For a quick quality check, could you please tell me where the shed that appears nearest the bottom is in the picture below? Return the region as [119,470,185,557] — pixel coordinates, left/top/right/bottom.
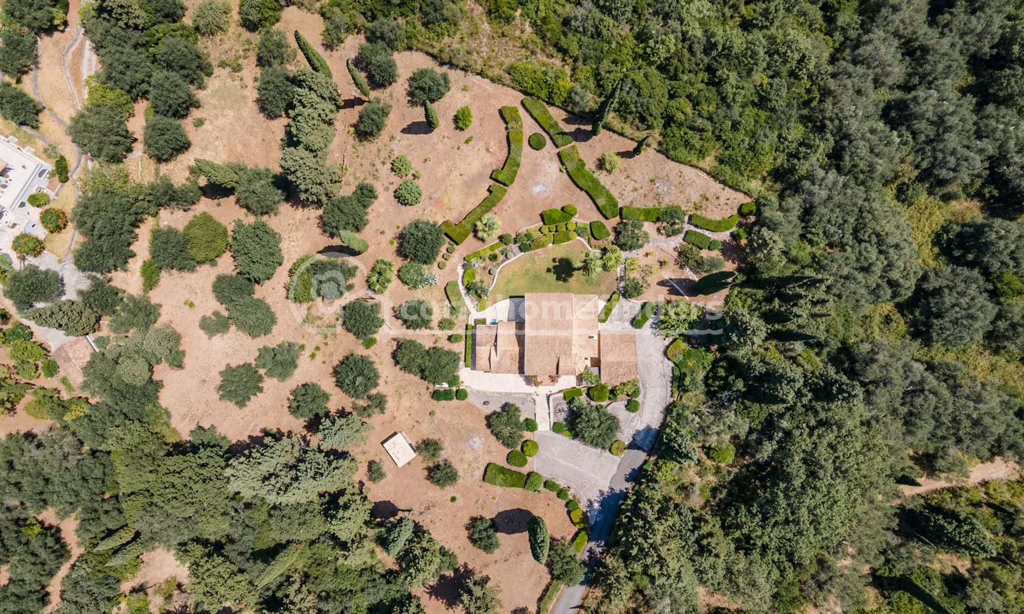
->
[383,431,418,467]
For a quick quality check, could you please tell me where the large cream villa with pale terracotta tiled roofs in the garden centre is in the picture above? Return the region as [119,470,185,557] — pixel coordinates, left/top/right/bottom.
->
[476,293,600,386]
